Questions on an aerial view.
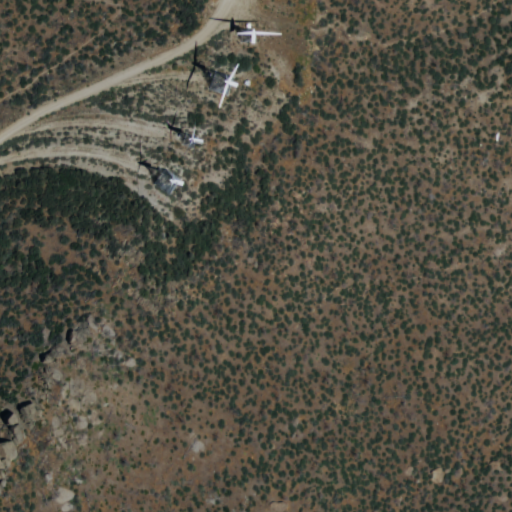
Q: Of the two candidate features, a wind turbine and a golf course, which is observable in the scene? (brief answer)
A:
wind turbine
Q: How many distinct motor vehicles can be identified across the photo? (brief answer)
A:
zero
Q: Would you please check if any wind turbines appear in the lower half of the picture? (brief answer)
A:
No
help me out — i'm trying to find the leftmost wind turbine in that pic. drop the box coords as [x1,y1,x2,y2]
[152,168,182,206]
